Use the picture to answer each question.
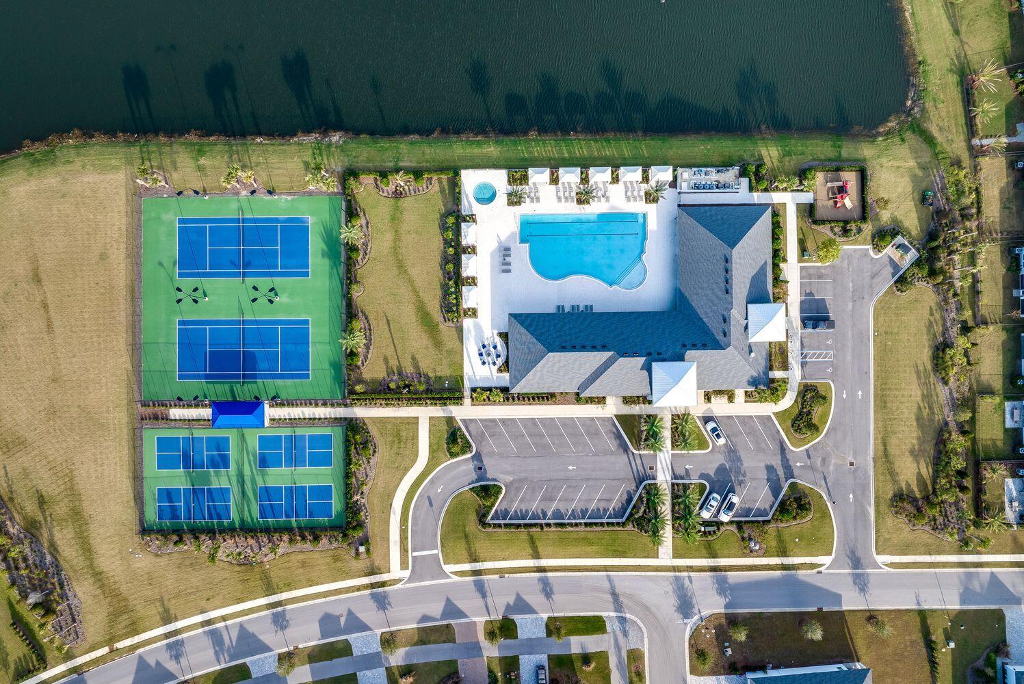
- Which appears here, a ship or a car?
car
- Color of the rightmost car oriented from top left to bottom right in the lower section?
white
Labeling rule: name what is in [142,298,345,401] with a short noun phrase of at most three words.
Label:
tennis court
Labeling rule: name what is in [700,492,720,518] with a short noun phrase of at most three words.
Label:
car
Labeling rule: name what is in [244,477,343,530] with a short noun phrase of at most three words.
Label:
sports court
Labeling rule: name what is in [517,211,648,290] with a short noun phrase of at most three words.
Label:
swimming pool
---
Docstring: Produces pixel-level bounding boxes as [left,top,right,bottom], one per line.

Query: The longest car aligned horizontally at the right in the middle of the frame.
[802,318,836,331]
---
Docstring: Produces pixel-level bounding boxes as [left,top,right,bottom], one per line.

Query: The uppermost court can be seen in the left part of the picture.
[142,196,344,299]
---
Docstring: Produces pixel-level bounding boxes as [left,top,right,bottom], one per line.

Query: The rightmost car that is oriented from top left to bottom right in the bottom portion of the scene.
[705,420,725,447]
